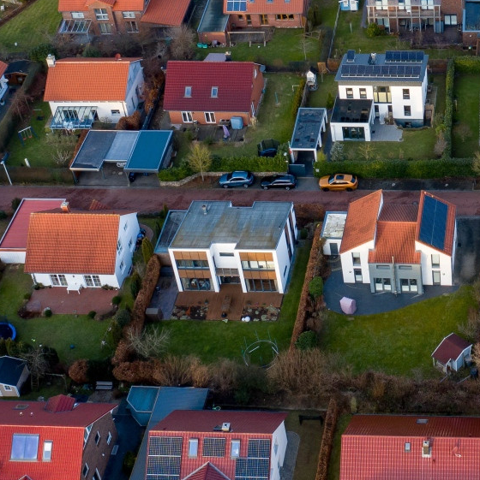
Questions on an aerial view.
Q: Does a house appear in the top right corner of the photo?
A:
Yes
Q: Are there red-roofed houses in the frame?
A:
Yes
